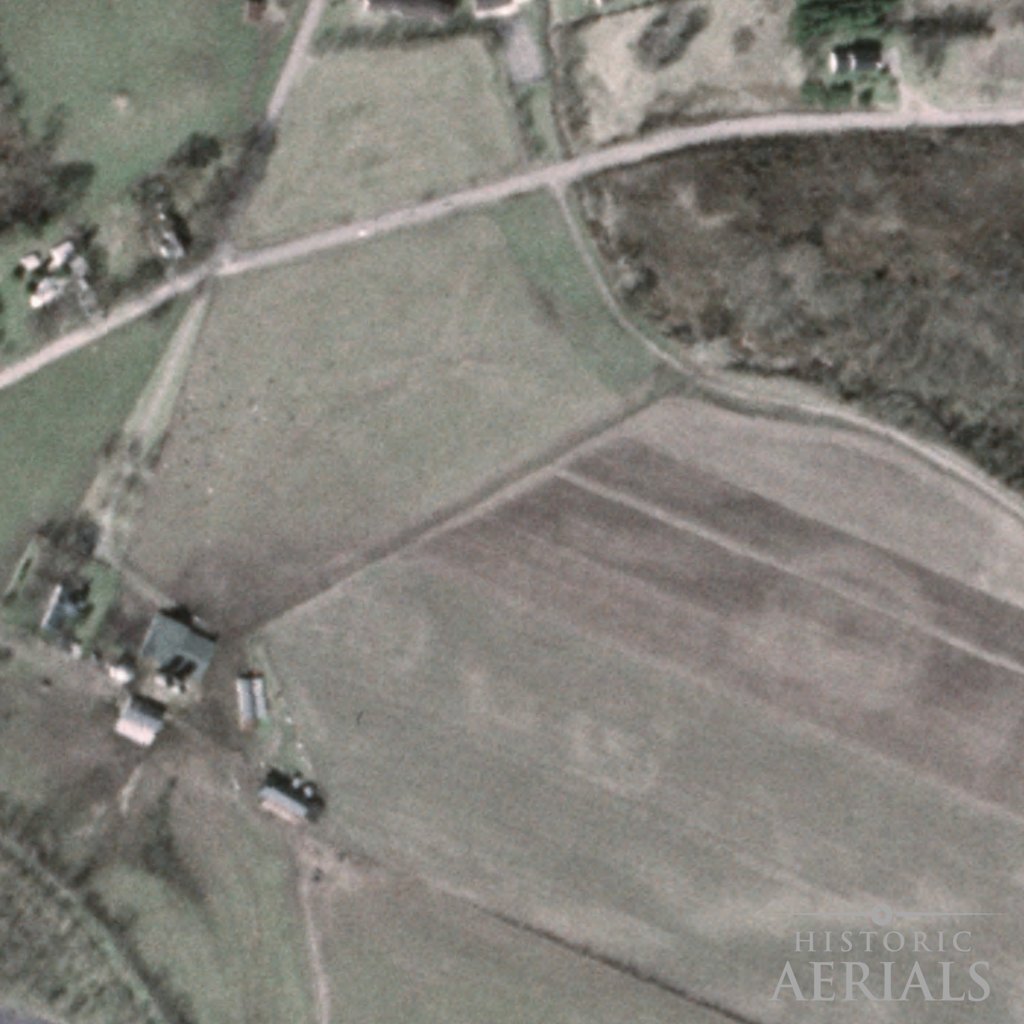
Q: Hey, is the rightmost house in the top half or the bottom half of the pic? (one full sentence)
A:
It is in the top half that the rightmost house appears.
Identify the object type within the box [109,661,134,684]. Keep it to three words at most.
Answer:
building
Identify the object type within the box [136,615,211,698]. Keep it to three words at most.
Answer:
barn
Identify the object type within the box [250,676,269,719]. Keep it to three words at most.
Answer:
shed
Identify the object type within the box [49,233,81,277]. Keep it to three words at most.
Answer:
house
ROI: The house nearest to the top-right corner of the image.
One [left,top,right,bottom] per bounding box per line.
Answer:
[828,47,893,76]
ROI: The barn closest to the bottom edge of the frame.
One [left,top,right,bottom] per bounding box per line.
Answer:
[261,774,317,819]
